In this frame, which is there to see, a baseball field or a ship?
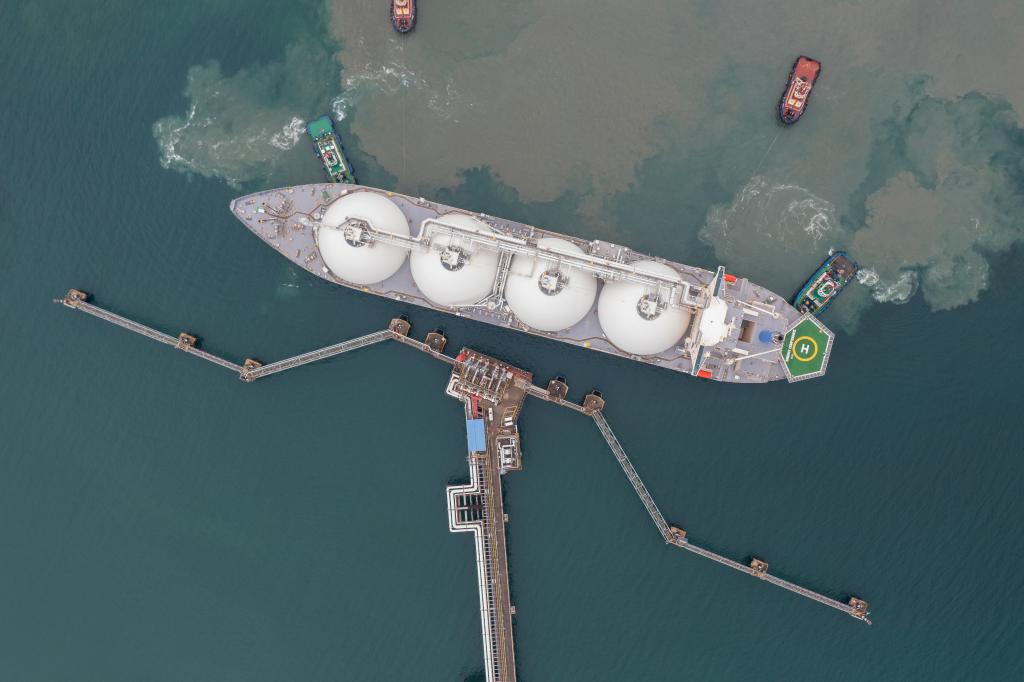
ship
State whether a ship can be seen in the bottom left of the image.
No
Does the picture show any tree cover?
No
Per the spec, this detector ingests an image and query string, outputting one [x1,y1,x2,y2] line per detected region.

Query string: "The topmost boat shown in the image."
[388,0,419,33]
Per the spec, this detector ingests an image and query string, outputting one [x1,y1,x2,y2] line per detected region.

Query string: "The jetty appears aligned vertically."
[447,452,516,682]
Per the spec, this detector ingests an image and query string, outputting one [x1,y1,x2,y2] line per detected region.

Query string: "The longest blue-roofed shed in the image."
[467,418,486,452]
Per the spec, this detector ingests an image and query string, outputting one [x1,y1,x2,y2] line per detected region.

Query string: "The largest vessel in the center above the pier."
[229,184,835,384]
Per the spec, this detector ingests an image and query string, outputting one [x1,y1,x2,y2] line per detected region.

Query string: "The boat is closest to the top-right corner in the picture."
[780,54,822,125]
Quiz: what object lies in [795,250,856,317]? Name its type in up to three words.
boat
